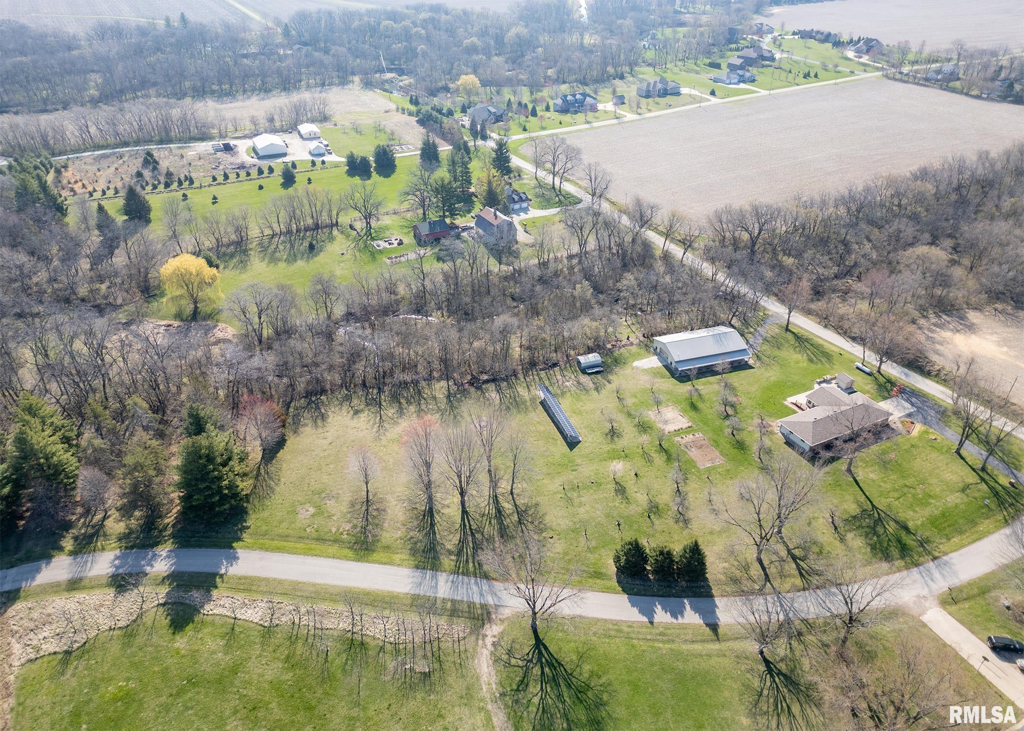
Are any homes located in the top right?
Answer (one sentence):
Yes, a home is visible in the top right.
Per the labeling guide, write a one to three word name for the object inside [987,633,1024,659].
car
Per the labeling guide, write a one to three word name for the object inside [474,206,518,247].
barn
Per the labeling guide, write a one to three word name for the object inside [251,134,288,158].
shed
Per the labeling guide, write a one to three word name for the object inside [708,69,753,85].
house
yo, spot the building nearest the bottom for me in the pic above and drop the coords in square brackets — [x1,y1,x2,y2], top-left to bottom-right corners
[776,383,895,454]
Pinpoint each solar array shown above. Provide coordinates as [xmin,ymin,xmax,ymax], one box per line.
[537,383,582,444]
